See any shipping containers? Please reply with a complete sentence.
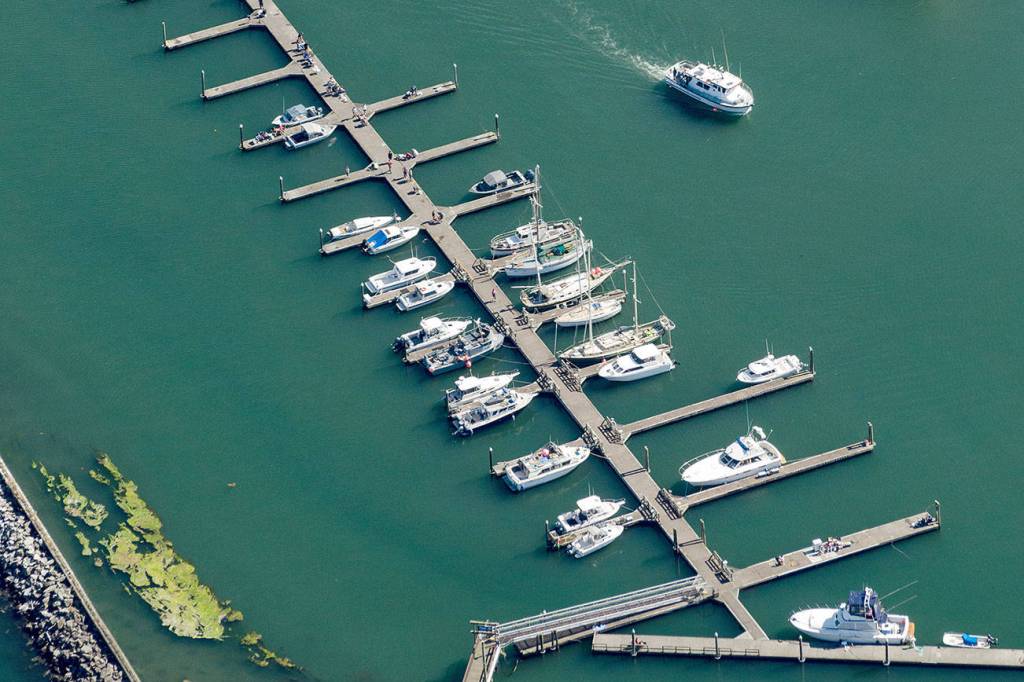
No, there is no shipping container in the image.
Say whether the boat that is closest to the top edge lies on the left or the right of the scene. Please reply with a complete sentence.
The boat that is closest to the top edge appears in the right half of the scene.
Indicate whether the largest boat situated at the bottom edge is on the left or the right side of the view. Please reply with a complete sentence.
The largest boat situated at the bottom edge appears in the right half of the scene.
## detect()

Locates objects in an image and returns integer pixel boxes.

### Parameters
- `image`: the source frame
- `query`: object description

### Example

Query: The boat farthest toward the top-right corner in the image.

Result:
[665,31,755,115]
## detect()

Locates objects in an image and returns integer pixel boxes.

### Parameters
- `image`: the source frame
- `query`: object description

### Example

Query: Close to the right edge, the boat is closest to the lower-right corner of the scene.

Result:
[942,633,998,649]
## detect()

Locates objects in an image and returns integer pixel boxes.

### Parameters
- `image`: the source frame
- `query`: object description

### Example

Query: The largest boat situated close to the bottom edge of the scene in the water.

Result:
[788,587,930,650]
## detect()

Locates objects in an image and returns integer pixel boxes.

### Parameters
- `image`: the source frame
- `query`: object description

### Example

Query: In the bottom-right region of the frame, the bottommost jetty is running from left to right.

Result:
[595,633,1024,670]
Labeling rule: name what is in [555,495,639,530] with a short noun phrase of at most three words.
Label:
boat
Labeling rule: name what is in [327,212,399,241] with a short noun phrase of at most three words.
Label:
boat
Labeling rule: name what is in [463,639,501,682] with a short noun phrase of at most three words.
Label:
pier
